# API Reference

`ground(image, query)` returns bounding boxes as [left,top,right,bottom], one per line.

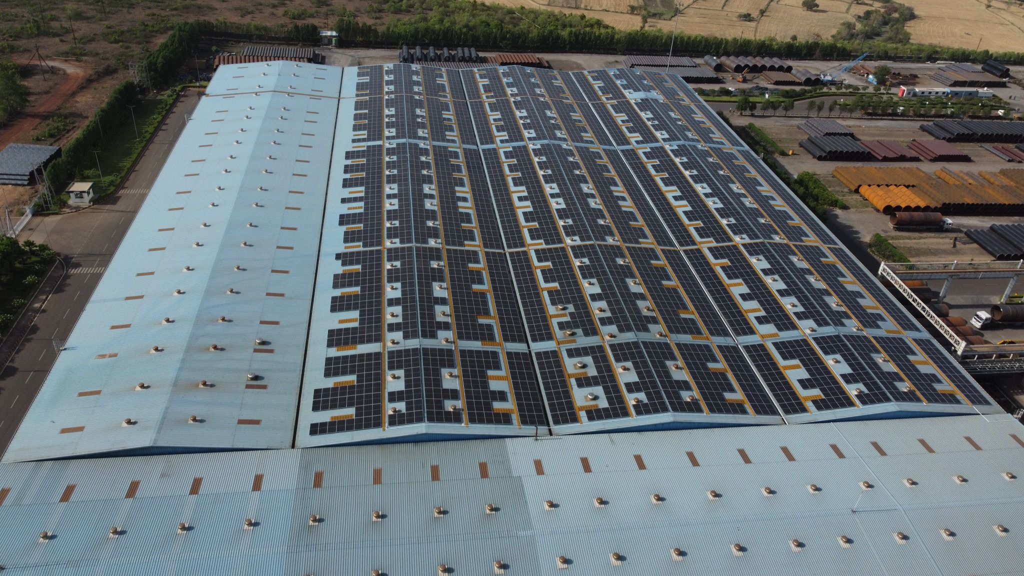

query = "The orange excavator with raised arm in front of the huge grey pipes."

[738,64,754,83]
